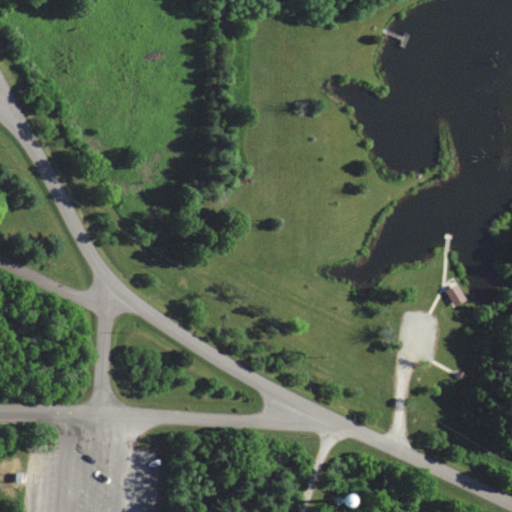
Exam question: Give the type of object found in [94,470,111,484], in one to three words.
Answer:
vehicle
